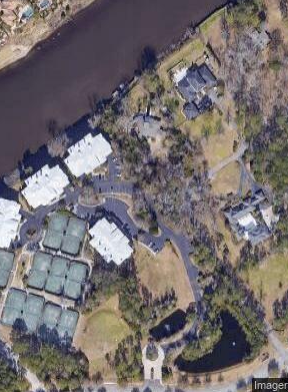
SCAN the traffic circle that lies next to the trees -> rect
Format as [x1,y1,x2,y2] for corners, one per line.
[142,344,163,384]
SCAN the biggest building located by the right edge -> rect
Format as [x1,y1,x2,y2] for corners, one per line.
[226,194,276,245]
